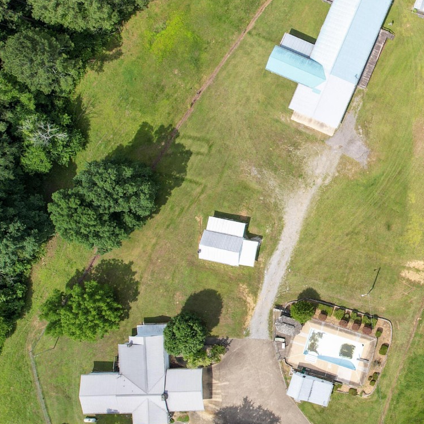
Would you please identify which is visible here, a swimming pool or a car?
swimming pool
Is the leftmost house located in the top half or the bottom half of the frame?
bottom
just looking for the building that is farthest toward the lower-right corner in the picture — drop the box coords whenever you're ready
[289,371,334,406]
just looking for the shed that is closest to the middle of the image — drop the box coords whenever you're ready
[198,216,260,267]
